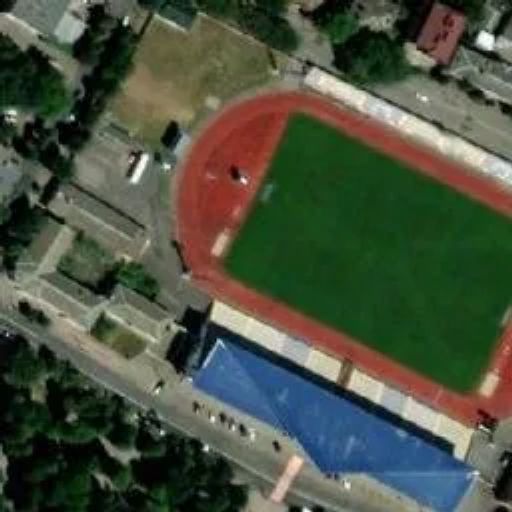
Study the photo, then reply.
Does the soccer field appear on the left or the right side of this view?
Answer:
right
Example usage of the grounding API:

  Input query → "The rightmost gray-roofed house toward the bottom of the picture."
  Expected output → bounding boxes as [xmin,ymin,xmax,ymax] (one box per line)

[102,283,170,341]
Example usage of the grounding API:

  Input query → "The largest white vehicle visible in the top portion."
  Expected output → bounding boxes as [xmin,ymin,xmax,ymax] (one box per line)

[130,153,150,184]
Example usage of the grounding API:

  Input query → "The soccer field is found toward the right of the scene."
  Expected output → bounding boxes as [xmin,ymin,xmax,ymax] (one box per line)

[222,110,512,400]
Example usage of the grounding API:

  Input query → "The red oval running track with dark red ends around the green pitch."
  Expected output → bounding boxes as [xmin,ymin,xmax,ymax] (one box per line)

[172,91,512,428]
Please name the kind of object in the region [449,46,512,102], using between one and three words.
house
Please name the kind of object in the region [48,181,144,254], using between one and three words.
house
